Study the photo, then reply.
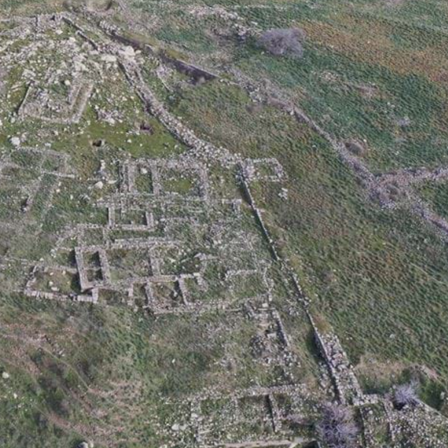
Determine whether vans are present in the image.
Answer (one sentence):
No, I find no van anywhere in the image.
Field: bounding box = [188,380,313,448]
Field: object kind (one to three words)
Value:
house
